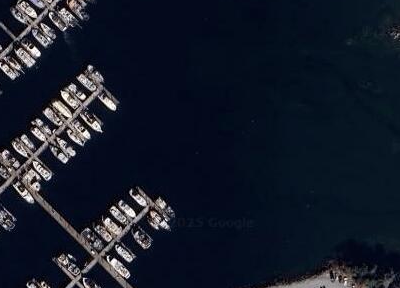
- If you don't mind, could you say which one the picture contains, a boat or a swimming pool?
boat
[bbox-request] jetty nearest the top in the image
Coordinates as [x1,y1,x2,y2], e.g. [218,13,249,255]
[0,0,63,69]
